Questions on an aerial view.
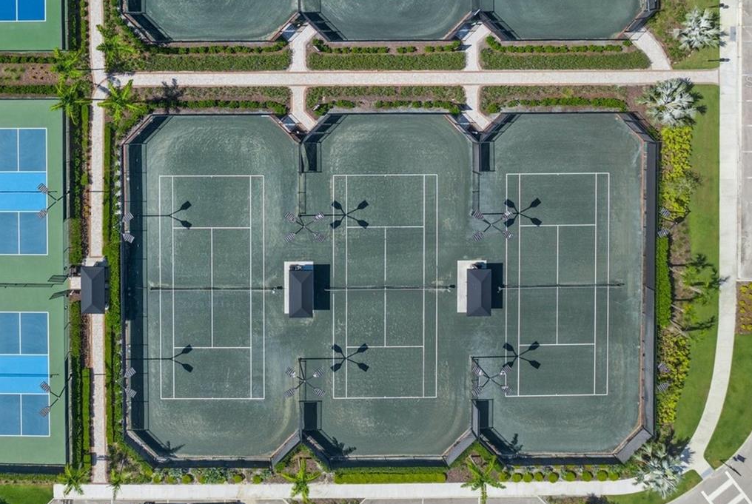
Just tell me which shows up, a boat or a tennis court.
tennis court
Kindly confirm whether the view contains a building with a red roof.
No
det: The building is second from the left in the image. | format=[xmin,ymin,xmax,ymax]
[285,261,312,317]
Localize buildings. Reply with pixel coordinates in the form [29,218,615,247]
[285,261,312,317]
[457,260,491,316]
[80,264,106,313]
